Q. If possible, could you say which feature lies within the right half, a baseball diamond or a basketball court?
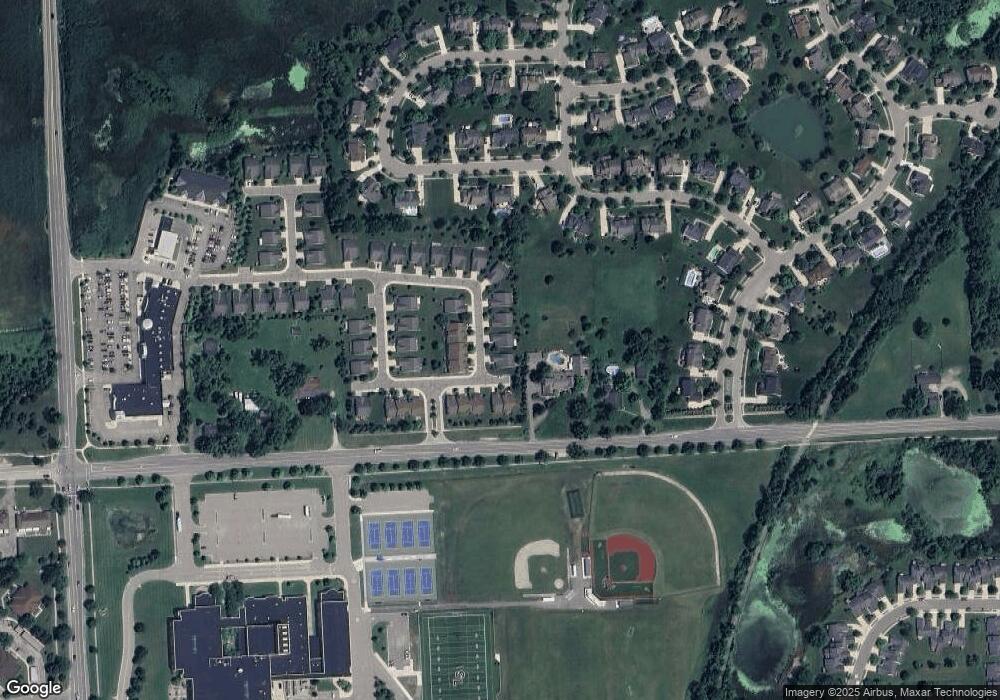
baseball diamond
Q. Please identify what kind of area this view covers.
residential area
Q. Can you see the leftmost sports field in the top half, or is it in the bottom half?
bottom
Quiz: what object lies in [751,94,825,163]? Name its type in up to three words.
pond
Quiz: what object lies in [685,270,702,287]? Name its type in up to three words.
swimming pool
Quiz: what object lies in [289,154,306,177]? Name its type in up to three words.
house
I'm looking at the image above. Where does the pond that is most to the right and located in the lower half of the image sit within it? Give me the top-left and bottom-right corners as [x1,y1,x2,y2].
[904,452,975,534]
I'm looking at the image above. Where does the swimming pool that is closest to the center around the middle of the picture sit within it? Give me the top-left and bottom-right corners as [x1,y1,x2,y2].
[549,351,567,368]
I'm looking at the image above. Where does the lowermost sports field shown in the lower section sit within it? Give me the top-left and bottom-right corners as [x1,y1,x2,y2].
[420,608,498,700]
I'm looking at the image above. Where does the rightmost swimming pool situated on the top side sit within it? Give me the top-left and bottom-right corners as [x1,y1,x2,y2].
[872,238,892,259]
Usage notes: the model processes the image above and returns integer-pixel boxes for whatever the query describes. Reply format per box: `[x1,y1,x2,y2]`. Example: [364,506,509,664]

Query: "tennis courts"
[367,521,381,549]
[370,569,384,597]
[417,519,431,547]
[400,520,414,548]
[384,521,397,549]
[403,567,417,595]
[420,566,434,594]
[388,568,400,596]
